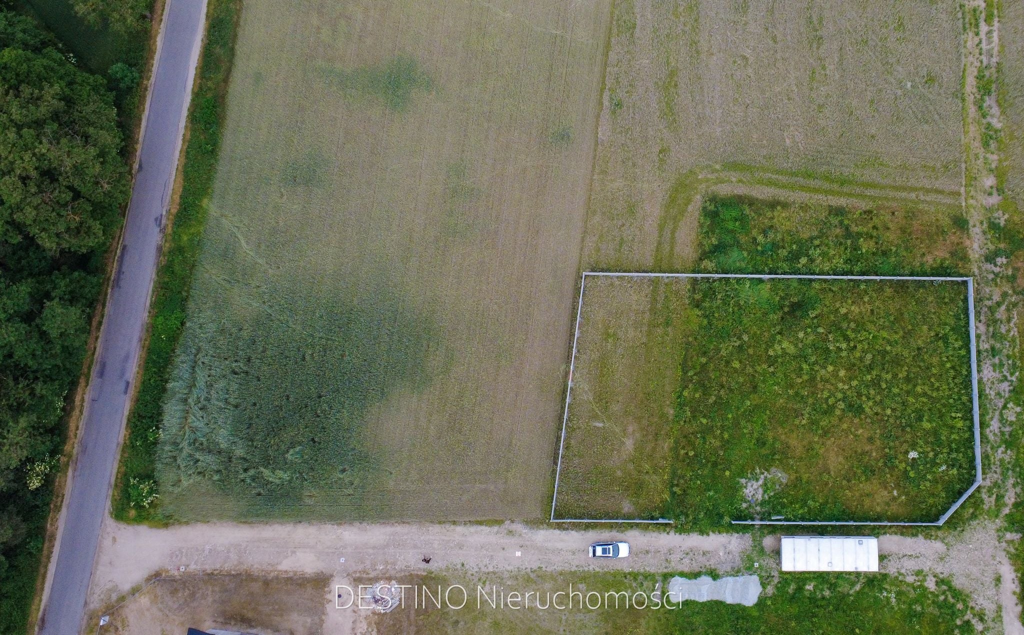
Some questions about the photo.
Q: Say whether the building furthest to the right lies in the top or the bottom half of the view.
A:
bottom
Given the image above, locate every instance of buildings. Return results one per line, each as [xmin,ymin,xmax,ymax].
[185,627,227,635]
[781,538,879,572]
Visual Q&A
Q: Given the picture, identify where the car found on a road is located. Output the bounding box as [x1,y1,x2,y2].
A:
[589,542,630,560]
